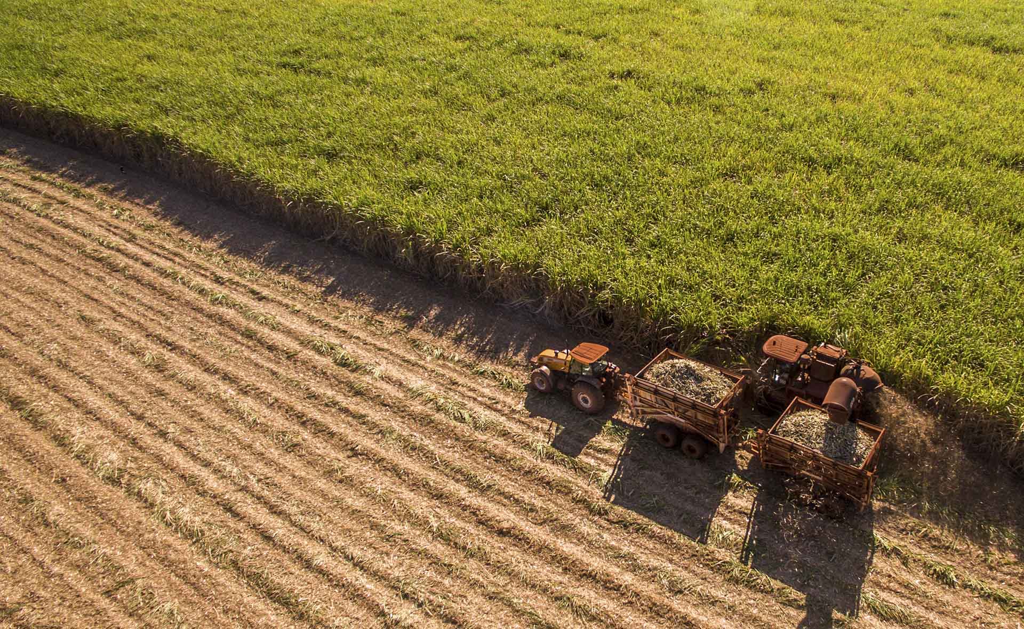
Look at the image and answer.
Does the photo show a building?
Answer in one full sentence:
No, the frame has no building in it.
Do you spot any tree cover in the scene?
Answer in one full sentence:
No, there is no tree cover in the image.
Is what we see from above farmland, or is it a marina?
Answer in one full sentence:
The area seen from above is farmland.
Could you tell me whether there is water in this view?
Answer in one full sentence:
No, water can't be seen anywhere here.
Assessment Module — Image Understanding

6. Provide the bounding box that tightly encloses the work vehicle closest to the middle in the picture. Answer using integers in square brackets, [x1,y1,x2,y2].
[530,343,627,417]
